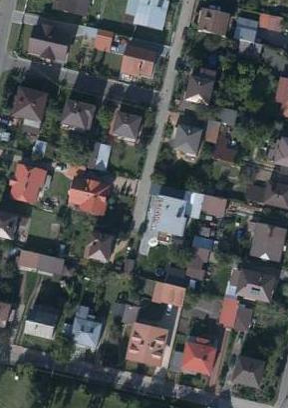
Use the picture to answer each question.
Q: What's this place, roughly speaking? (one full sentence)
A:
This image shows a residential area.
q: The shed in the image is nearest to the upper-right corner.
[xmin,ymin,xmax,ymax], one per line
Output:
[258,15,284,34]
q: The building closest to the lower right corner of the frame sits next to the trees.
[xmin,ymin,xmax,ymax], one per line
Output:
[231,355,265,391]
